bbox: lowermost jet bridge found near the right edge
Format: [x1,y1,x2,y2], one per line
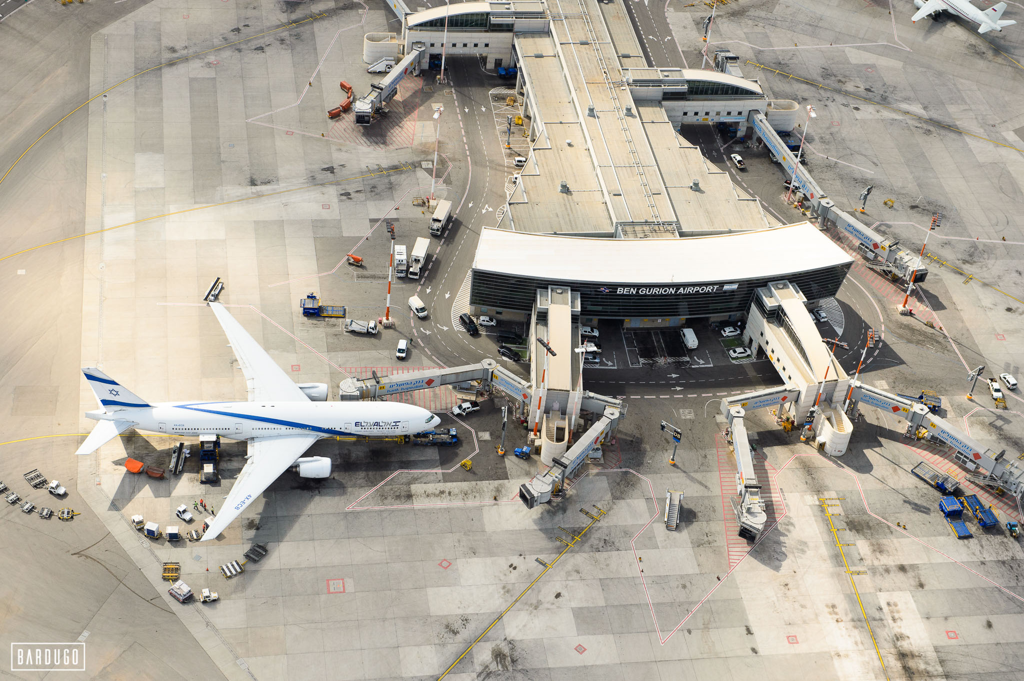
[847,382,1024,504]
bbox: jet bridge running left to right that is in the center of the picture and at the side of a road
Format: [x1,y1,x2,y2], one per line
[340,359,534,418]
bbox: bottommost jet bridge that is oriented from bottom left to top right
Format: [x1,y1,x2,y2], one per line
[518,395,622,511]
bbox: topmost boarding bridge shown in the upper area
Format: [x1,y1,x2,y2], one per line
[380,0,409,38]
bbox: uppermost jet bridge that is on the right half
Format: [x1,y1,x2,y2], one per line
[701,48,744,78]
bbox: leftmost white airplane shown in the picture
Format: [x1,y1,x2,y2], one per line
[77,302,439,541]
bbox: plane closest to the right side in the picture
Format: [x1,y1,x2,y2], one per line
[915,0,1015,34]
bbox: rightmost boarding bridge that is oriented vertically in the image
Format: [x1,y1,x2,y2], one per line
[723,384,805,543]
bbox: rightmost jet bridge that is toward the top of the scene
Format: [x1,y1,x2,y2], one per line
[743,116,927,286]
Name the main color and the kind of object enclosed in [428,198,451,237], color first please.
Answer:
white truck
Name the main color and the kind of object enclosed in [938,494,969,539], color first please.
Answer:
blue work vehicle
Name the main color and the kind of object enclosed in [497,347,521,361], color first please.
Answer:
black car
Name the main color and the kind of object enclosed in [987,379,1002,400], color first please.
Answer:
white vehicle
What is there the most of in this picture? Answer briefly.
paved ground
